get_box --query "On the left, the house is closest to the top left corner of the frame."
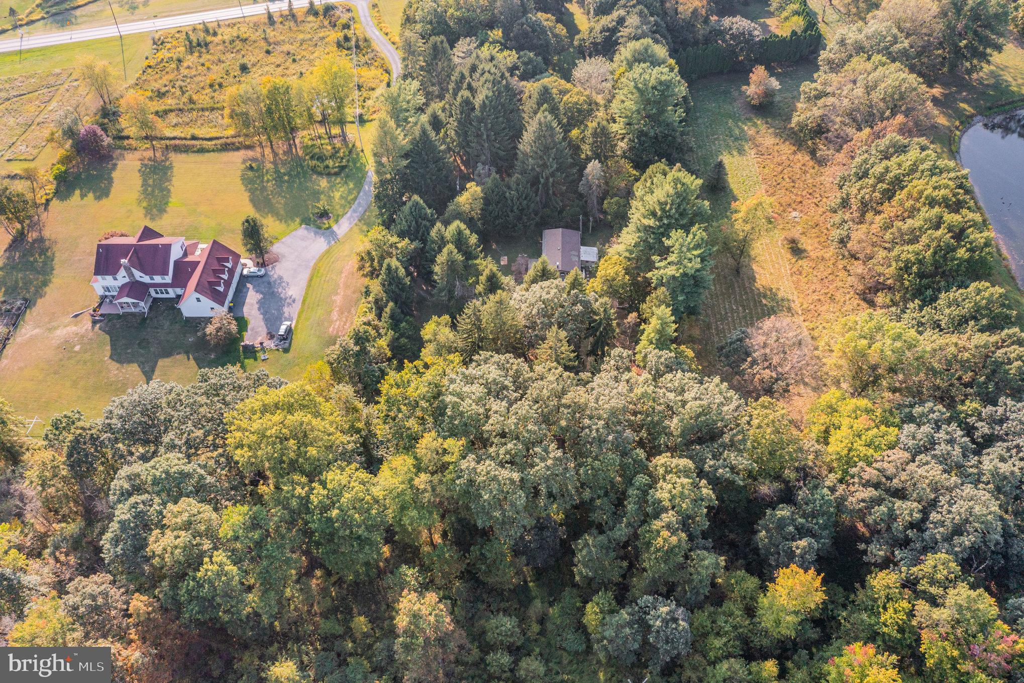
[88,222,244,319]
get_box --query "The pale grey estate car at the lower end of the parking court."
[276,324,293,343]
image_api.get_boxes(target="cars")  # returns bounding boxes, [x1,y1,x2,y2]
[242,268,264,278]
[276,324,293,343]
